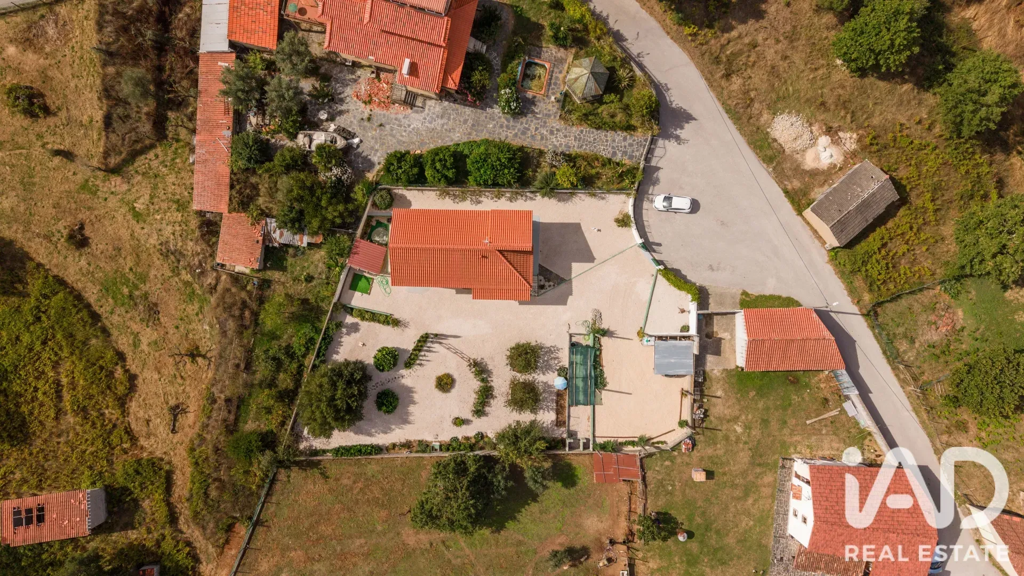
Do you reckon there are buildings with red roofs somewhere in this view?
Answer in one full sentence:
Yes, there is a building with a red roof in the image.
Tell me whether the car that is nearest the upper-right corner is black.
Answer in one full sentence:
No, from above the car that is nearest the upper-right corner looks white.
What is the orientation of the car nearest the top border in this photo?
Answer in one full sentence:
The car nearest the top border runs horizontally in the image.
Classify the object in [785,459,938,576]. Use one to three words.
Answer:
house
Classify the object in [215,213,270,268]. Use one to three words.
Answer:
shed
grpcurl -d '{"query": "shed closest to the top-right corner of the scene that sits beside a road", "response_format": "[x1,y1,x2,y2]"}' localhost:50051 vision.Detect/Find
[806,160,900,247]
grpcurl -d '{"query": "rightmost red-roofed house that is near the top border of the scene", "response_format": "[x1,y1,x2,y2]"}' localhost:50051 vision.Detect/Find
[286,0,487,106]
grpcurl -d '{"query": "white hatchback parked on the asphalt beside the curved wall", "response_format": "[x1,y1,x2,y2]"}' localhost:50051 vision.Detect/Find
[655,193,694,214]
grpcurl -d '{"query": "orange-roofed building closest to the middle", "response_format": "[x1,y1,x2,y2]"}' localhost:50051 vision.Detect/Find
[389,209,540,302]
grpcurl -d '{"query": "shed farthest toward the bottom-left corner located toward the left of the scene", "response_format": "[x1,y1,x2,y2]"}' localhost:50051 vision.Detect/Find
[0,483,106,545]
